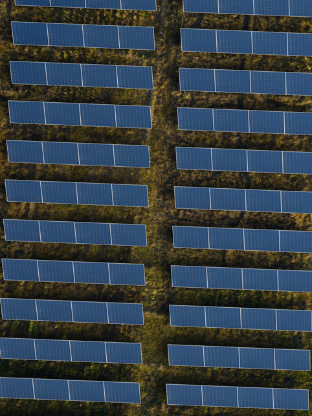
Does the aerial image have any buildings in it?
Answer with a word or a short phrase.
No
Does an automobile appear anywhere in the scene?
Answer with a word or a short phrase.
No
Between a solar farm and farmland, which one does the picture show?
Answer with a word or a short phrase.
solar farm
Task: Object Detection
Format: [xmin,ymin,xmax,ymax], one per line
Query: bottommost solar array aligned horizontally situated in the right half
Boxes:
[166,384,308,411]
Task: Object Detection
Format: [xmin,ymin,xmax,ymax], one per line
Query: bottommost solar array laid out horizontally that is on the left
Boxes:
[0,378,140,404]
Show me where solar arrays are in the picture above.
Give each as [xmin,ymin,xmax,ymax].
[14,0,156,11]
[166,384,308,411]
[168,344,310,372]
[177,107,312,136]
[10,61,153,90]
[1,259,145,287]
[179,68,312,96]
[7,140,150,169]
[0,378,140,404]
[0,338,141,365]
[176,147,312,175]
[172,226,312,254]
[11,22,155,51]
[169,305,312,333]
[3,219,147,247]
[181,28,312,57]
[0,299,144,326]
[8,101,152,129]
[183,0,312,17]
[174,187,312,214]
[171,266,312,293]
[5,180,148,208]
